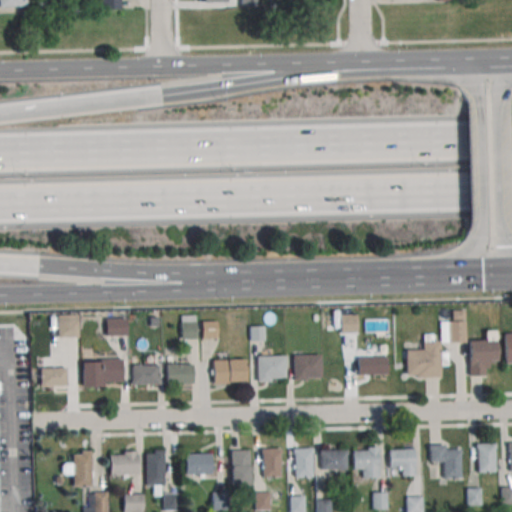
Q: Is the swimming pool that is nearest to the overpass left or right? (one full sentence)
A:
The swimming pool that is nearest to the overpass is on the right side of the image.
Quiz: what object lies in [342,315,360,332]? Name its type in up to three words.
building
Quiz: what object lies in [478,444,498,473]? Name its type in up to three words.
house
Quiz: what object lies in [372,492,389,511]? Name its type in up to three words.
building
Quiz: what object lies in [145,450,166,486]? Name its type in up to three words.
house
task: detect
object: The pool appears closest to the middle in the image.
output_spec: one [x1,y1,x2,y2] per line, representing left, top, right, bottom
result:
[263,312,278,326]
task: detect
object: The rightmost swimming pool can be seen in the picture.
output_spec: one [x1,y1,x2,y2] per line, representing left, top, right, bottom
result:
[364,318,390,338]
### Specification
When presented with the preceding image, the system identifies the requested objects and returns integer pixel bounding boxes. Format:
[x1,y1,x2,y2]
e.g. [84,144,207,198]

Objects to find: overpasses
[420,74,512,260]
